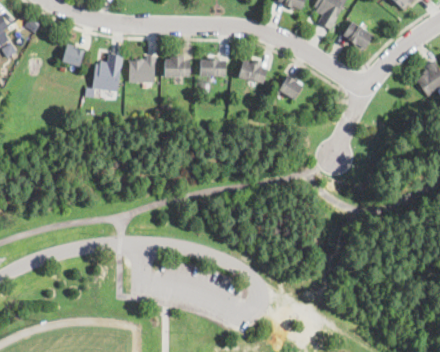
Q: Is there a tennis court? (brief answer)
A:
No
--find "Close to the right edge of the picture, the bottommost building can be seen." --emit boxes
[420,60,440,96]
